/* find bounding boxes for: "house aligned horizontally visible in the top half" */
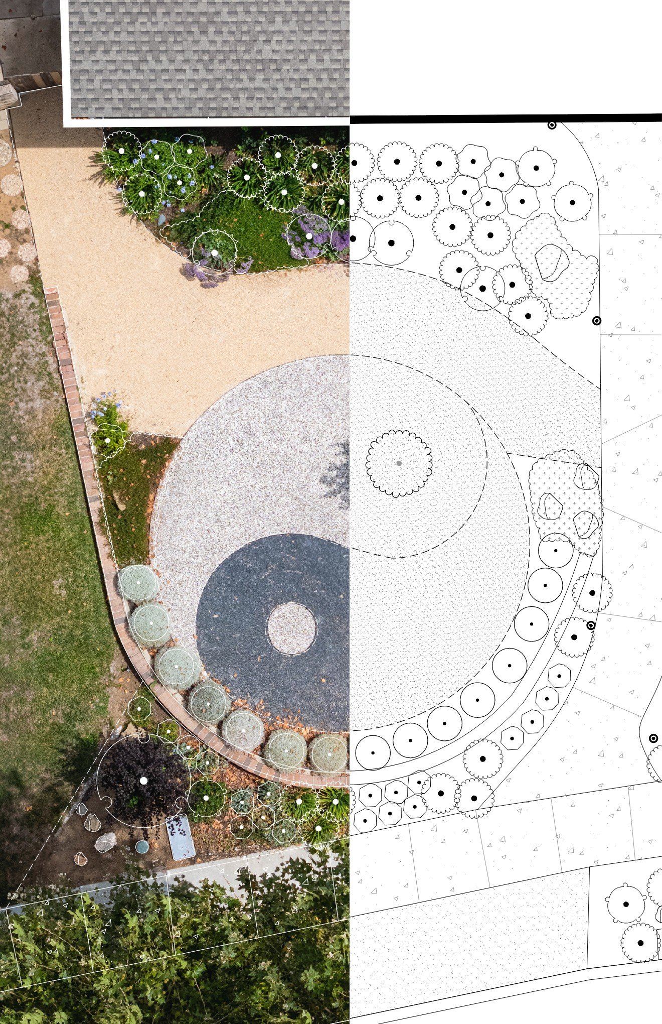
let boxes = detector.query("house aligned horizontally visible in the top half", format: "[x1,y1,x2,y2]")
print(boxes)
[60,0,350,128]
